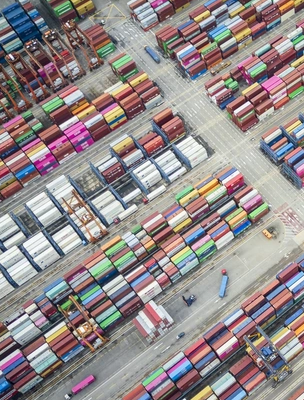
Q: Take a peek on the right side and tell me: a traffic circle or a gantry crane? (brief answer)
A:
gantry crane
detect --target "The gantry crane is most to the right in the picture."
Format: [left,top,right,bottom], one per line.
[239,325,292,387]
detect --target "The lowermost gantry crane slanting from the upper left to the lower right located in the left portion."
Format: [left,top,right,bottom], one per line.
[55,294,110,353]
